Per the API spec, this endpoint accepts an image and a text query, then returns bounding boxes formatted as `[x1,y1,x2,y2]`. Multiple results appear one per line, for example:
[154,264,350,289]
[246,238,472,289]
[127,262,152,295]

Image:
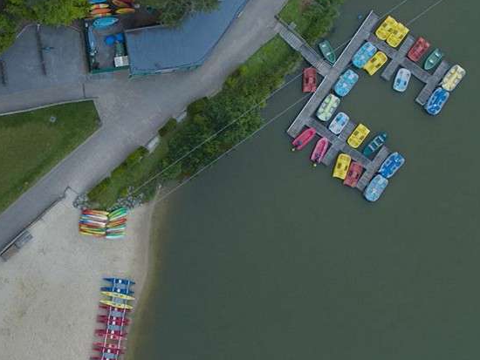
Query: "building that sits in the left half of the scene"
[123,0,250,80]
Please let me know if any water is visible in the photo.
Yes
